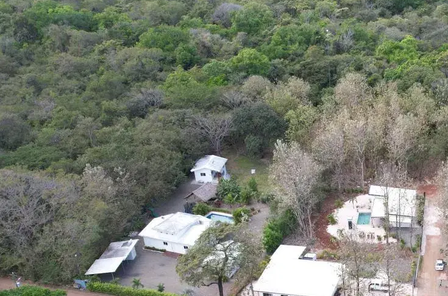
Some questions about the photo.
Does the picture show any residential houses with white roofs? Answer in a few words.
Yes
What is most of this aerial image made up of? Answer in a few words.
trees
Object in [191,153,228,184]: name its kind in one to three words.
house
